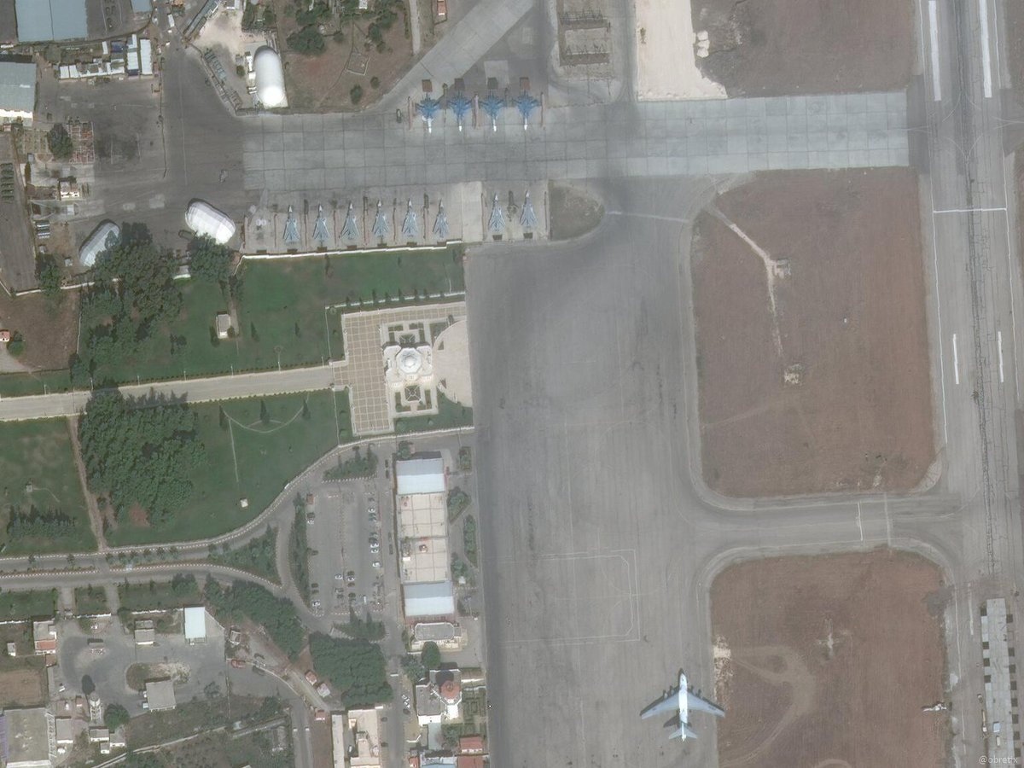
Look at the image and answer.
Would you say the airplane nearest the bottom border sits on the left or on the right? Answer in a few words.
right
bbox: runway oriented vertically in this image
[922,0,1024,768]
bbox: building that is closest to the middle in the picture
[384,345,433,388]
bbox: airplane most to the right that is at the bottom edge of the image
[641,671,725,743]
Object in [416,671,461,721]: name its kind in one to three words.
house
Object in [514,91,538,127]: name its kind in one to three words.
airplane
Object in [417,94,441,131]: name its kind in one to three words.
airplane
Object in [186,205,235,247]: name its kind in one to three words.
hangar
